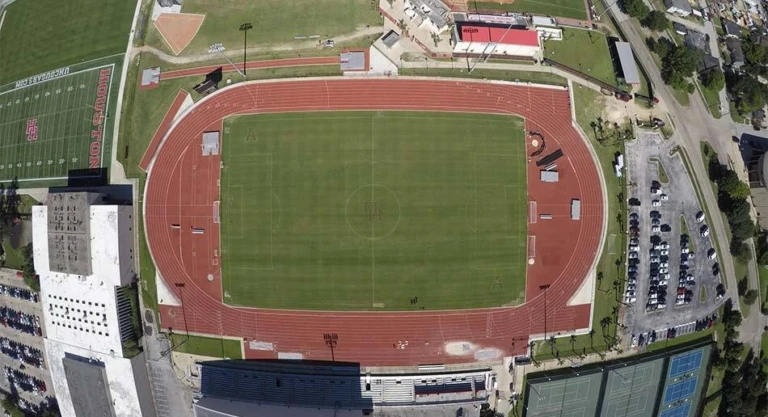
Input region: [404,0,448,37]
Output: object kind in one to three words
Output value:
building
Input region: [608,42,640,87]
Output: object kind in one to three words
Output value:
shed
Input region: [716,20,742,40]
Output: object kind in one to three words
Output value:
house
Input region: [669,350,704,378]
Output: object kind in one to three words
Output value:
tennis court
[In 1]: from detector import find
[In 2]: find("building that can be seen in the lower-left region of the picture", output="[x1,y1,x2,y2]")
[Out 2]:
[32,192,157,417]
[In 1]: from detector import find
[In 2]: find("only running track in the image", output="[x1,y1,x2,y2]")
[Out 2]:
[142,76,607,367]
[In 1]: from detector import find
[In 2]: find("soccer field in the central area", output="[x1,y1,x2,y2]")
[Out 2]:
[219,110,529,312]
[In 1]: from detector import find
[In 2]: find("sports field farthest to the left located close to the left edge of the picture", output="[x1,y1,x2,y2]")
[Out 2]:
[0,52,125,190]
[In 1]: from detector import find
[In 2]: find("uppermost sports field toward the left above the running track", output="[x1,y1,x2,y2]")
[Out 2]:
[153,13,206,56]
